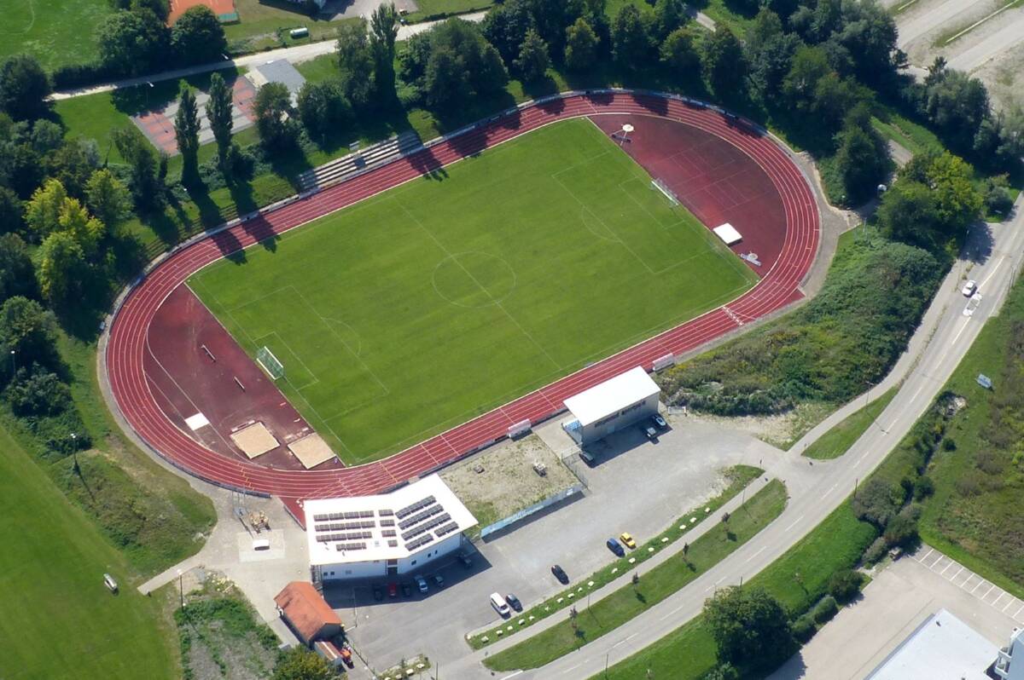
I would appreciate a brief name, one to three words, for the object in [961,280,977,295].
car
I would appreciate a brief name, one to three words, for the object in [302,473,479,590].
building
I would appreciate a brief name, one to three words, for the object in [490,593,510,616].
vehicle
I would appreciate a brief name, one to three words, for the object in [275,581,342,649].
barn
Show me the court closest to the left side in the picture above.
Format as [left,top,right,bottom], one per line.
[136,107,178,151]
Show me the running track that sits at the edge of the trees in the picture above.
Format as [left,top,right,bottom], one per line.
[109,93,819,499]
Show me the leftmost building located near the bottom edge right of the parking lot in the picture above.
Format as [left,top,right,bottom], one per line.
[859,609,1000,680]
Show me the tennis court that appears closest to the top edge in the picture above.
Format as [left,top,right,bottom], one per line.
[166,0,238,23]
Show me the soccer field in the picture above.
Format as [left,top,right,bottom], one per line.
[185,115,761,466]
